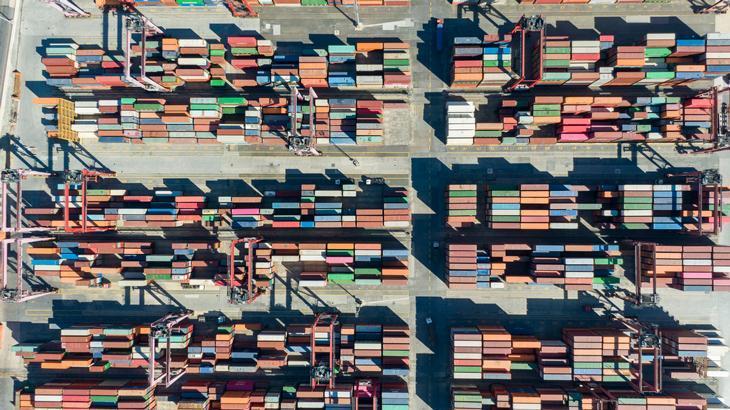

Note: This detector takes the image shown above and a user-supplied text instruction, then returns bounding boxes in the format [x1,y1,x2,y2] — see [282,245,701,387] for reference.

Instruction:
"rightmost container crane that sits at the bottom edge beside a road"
[603,313,662,393]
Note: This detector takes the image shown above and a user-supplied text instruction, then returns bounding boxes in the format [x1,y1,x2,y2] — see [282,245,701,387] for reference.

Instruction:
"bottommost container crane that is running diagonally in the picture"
[565,379,620,410]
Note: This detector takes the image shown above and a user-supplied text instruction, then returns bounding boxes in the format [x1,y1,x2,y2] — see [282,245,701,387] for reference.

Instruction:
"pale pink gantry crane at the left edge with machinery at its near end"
[0,231,66,304]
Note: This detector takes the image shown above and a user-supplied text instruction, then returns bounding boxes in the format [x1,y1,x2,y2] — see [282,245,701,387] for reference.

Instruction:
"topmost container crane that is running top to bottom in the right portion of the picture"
[498,14,545,100]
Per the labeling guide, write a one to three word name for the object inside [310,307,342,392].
container crane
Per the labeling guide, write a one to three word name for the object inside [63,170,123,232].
container crane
